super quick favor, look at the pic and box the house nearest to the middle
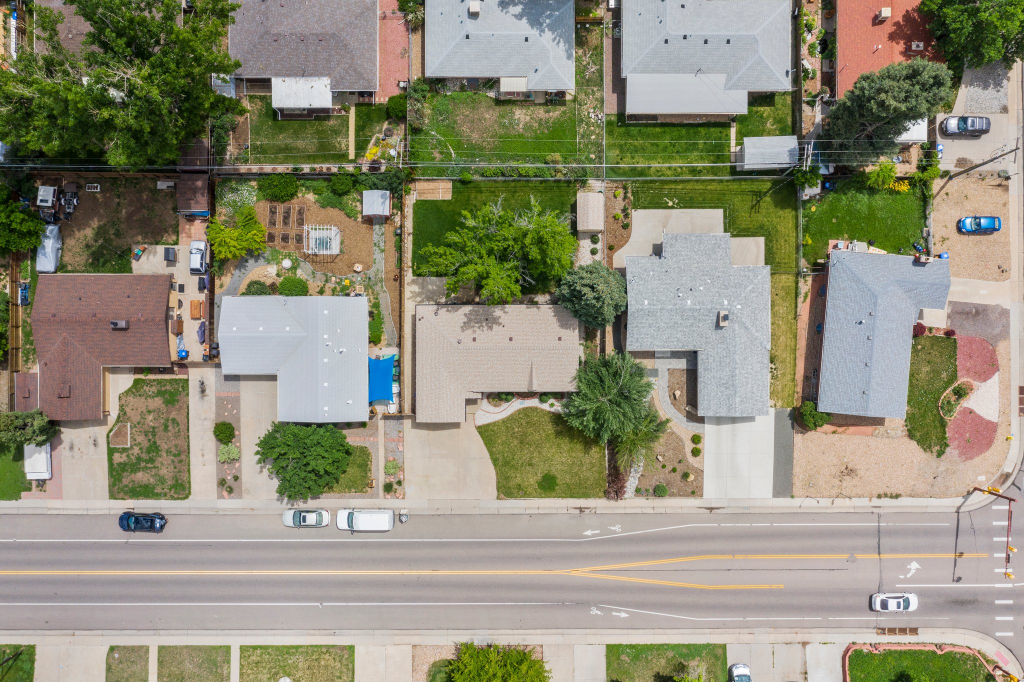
[415,304,584,423]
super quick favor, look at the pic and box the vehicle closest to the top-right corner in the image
[940,114,993,137]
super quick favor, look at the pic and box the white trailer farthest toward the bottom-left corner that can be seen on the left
[22,443,52,486]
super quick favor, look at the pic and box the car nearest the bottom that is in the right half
[729,660,752,682]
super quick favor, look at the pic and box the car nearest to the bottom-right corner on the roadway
[870,590,916,613]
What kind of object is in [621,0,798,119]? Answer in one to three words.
house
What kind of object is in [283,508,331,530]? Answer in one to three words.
car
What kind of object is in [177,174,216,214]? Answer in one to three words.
shed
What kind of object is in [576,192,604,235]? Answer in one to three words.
shed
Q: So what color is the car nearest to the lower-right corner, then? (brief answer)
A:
white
